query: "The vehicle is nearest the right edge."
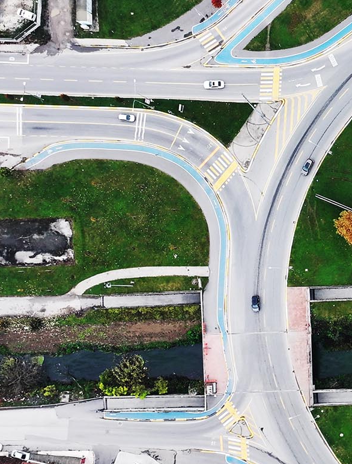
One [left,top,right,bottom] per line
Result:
[302,158,314,176]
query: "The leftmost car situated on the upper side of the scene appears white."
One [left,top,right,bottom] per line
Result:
[18,7,38,21]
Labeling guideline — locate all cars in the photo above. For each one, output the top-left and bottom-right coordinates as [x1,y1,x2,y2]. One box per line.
[251,294,260,312]
[117,114,136,123]
[12,449,32,459]
[18,7,38,21]
[203,80,225,89]
[302,158,314,176]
